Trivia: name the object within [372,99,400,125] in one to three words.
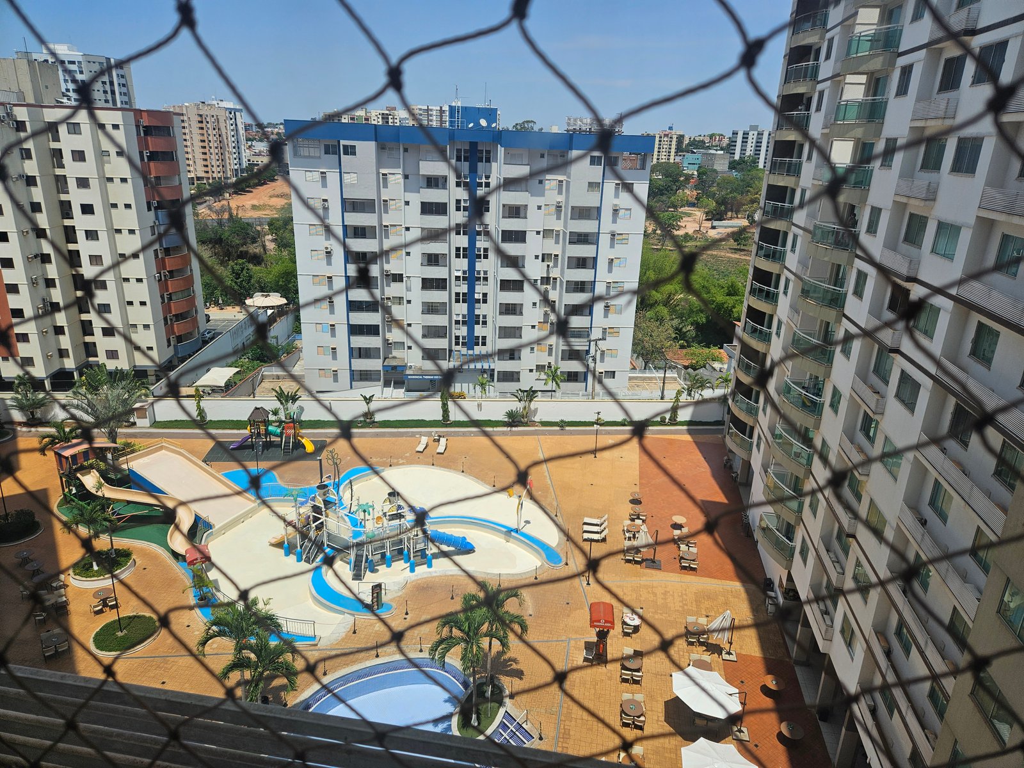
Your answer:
building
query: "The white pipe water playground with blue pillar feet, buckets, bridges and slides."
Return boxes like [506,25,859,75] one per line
[260,472,482,592]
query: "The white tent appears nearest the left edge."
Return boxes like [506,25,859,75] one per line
[191,369,246,395]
